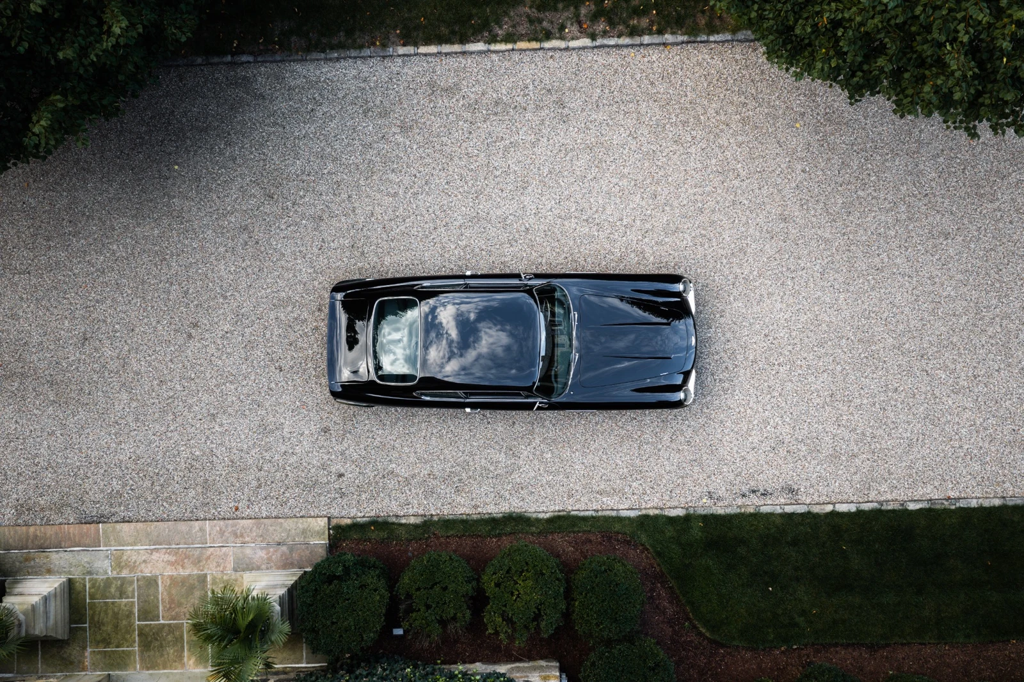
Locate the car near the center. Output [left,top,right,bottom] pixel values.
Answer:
[328,269,698,414]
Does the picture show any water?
No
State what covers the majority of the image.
paved ground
